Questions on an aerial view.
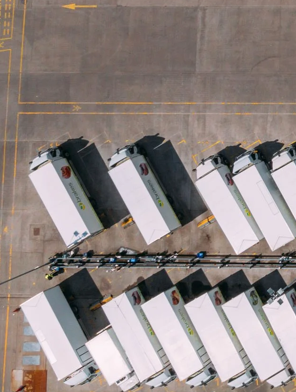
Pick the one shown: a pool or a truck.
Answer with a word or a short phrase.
truck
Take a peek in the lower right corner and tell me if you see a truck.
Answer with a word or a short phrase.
Yes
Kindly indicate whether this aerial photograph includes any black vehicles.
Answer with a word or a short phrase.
No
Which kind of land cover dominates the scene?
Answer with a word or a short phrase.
paved ground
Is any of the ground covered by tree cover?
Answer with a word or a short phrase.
No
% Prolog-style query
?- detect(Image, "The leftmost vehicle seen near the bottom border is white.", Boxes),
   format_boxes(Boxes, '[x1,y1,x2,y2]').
[20,283,103,390]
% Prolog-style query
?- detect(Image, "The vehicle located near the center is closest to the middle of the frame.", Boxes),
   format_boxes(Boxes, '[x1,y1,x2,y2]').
[106,139,184,245]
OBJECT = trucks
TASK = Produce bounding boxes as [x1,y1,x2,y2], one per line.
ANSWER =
[28,141,107,247]
[101,284,179,392]
[221,284,296,392]
[266,140,296,218]
[191,148,265,255]
[85,321,150,392]
[141,283,219,391]
[20,283,103,390]
[261,285,296,375]
[229,144,296,252]
[106,139,184,245]
[184,285,259,392]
